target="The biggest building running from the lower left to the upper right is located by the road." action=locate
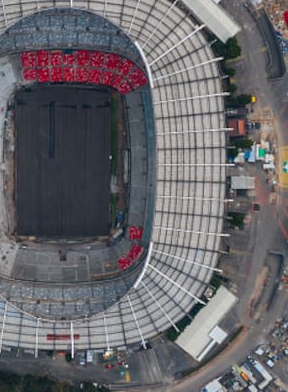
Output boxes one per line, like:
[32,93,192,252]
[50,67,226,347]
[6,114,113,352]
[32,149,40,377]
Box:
[173,284,237,360]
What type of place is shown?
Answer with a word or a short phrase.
sports ground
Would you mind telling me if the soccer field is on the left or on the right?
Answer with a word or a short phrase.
left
